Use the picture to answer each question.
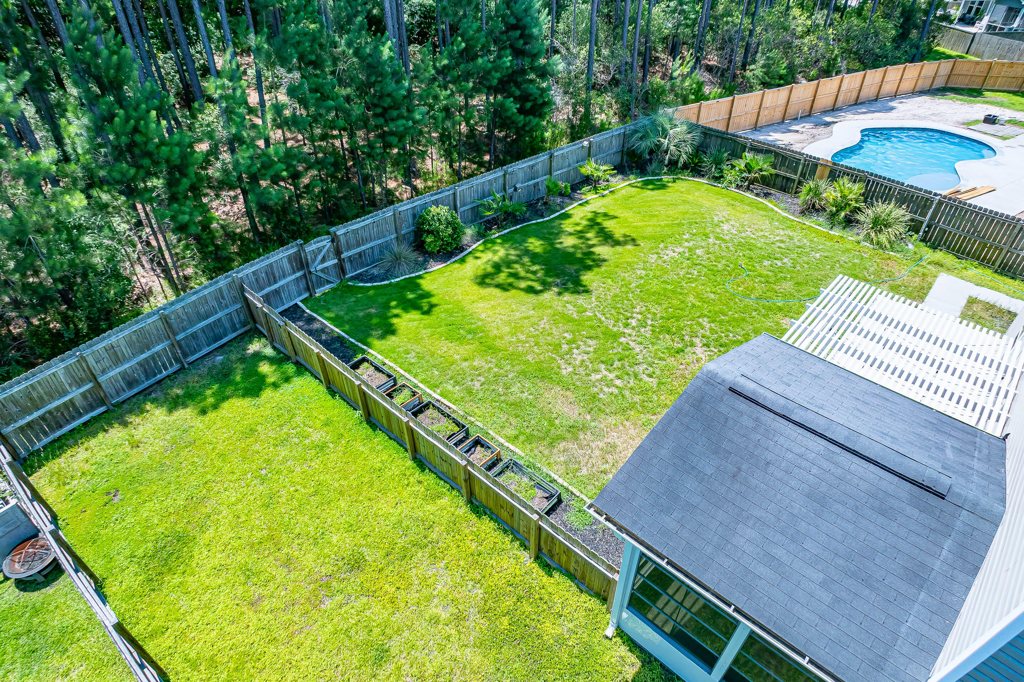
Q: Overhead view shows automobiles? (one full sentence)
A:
No, no automobile can be seen from above.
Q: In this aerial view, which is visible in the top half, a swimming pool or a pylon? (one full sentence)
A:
The feature located in the top half is a swimming pool.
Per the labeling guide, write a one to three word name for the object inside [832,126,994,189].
swimming pool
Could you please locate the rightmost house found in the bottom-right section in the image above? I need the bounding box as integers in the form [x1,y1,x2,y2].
[585,330,1024,682]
